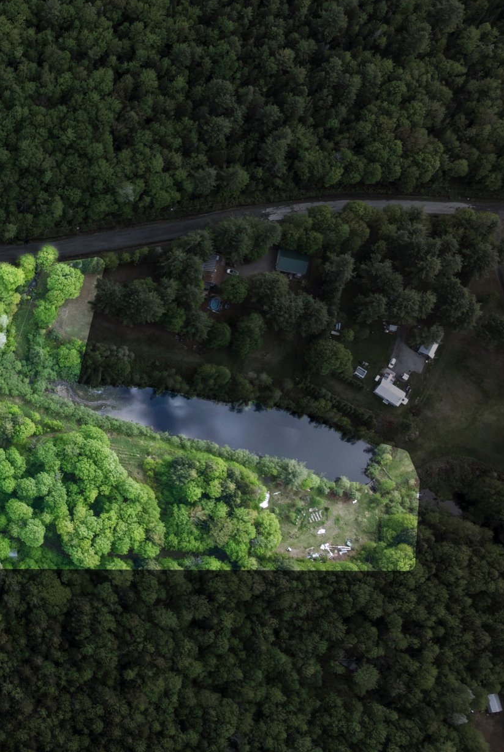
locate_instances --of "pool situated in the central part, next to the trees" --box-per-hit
[207,297,222,314]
